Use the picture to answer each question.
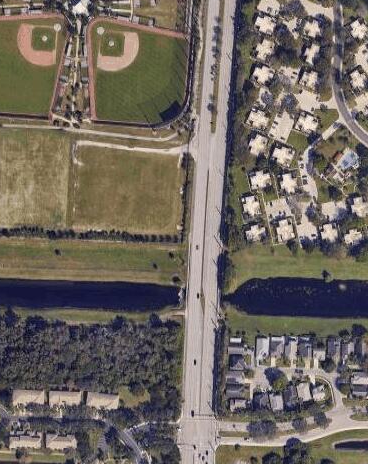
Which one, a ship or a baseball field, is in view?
baseball field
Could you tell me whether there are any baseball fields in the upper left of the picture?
Yes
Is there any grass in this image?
Yes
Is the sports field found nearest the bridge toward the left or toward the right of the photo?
left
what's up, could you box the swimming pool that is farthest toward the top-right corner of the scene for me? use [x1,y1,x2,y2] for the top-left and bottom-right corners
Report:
[338,147,359,171]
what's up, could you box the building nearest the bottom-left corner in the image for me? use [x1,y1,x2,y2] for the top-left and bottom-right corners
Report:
[10,435,40,449]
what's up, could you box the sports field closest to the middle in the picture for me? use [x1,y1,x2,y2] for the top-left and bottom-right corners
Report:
[74,148,182,236]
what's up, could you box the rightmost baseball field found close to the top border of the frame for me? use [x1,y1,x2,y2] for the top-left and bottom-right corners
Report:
[89,19,191,128]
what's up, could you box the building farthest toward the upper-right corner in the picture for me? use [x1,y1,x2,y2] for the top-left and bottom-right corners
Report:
[348,17,368,41]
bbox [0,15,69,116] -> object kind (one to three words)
baseball field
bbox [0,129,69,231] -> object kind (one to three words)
sports field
